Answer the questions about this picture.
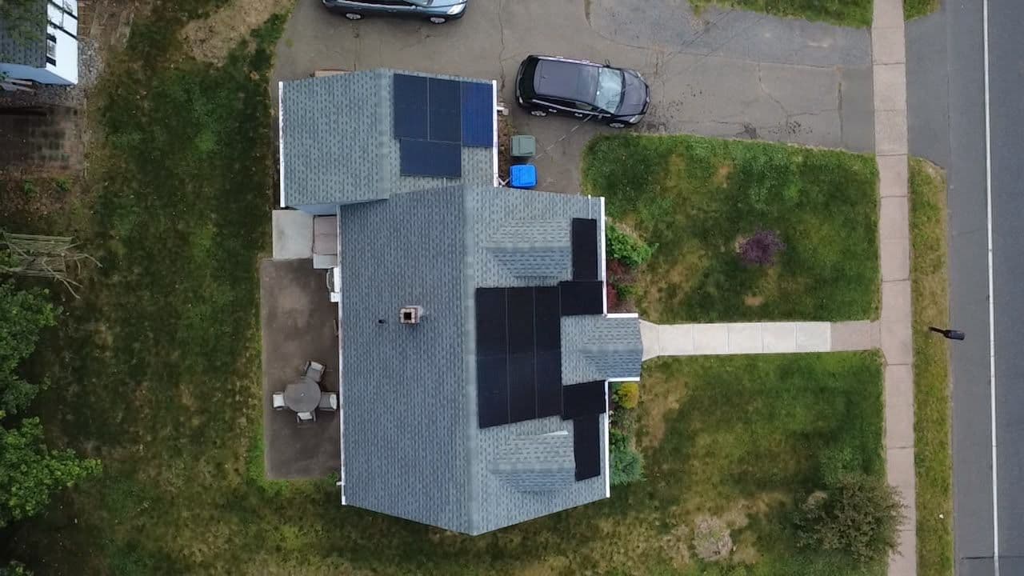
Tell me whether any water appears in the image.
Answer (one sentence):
No, no water is visible.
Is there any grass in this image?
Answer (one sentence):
Yes, grass shows up in the scene.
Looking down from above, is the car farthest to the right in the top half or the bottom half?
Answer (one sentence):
The car farthest to the right is in the top half of the image.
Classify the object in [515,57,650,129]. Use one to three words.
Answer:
car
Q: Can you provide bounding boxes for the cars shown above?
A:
[320,0,466,26]
[515,57,650,129]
